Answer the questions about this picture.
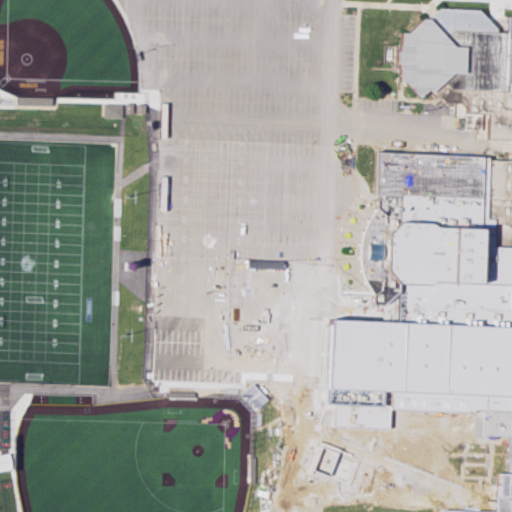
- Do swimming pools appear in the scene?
No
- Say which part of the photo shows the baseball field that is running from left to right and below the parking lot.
bottom left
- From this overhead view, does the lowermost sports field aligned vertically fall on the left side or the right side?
left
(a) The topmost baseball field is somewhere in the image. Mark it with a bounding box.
[0,0,138,98]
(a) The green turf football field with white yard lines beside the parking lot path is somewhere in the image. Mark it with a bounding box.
[0,142,115,384]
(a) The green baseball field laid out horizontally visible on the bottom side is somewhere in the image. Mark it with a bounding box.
[18,396,250,512]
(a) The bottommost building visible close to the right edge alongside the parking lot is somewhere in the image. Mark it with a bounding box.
[328,152,512,428]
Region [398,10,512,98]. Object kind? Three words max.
building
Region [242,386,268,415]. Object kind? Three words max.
building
